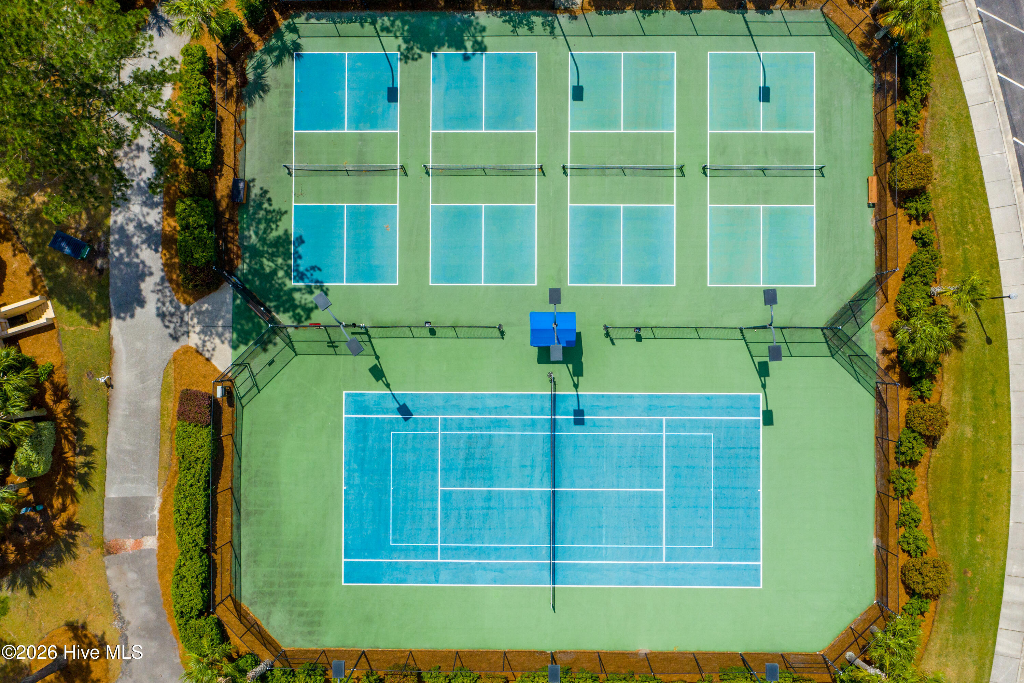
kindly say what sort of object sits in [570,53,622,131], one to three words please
sports court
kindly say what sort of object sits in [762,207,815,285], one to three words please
sports court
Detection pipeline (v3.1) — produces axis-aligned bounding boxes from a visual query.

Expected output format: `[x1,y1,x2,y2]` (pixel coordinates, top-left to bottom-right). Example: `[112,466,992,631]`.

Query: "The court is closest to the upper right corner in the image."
[762,53,815,131]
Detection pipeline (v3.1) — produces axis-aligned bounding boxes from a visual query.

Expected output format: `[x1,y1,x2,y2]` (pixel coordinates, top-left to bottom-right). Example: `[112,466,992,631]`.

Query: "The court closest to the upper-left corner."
[295,53,346,131]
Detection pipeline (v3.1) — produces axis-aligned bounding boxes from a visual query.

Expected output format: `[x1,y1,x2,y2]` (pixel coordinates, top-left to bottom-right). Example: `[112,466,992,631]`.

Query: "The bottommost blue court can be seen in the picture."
[343,392,761,588]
